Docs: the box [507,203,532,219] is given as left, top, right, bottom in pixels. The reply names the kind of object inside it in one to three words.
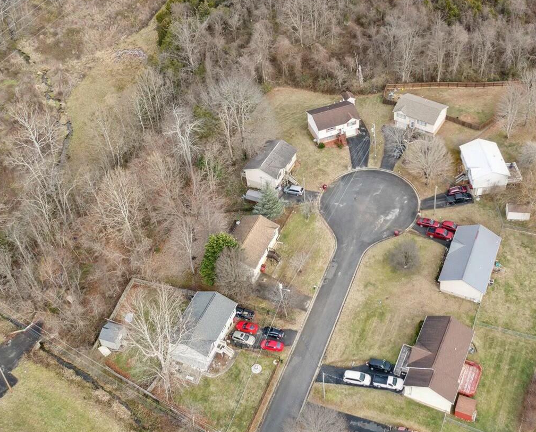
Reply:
shed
